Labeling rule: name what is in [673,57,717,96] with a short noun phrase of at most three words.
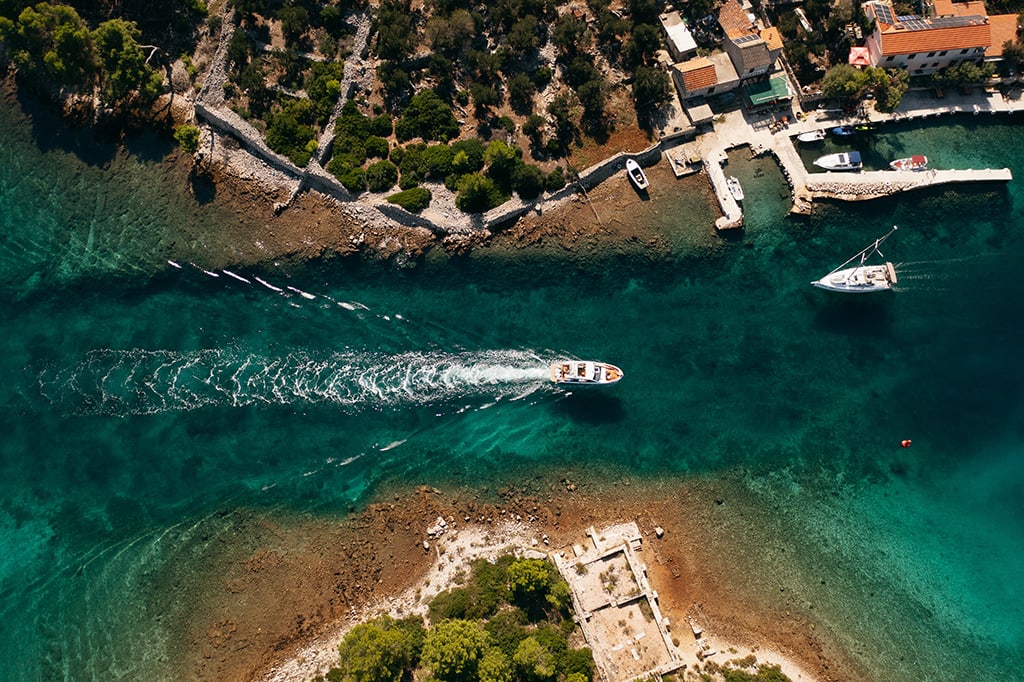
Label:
house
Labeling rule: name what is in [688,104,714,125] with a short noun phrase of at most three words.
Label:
shed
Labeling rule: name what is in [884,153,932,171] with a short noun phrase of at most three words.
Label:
boat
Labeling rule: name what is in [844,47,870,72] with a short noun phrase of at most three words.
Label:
gazebo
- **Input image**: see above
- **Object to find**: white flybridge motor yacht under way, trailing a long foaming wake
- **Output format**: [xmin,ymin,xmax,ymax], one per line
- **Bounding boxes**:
[547,358,623,386]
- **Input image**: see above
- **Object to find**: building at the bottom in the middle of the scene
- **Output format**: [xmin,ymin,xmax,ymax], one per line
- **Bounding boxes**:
[551,523,687,682]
